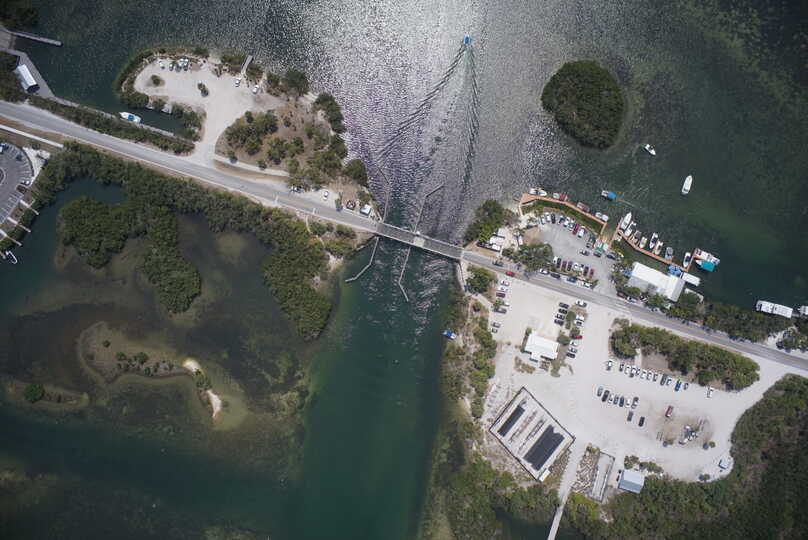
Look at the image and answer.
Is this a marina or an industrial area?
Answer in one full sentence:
This image shows a marina.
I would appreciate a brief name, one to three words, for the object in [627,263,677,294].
building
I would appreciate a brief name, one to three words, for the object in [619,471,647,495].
shed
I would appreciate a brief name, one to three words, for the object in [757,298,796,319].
boat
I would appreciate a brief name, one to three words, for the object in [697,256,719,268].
boat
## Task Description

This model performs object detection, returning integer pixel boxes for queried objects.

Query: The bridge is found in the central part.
[375,221,464,261]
